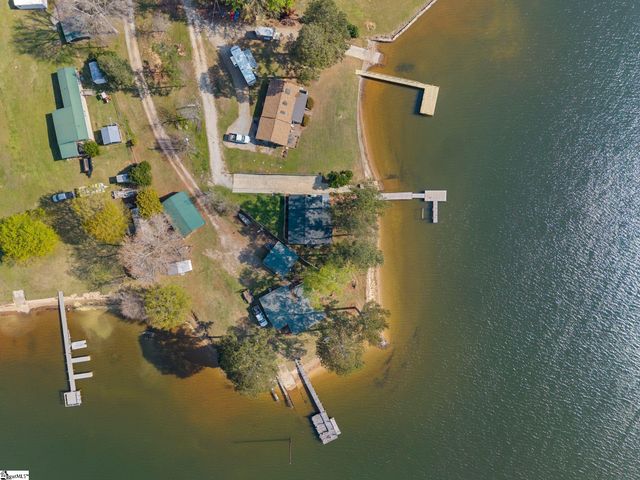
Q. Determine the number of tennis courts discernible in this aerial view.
0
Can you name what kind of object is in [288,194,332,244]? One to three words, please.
house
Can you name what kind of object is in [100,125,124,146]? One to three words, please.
shed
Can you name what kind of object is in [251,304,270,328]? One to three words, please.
vehicle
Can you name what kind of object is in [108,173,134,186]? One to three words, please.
vehicle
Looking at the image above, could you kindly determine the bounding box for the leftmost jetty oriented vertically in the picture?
[56,291,94,408]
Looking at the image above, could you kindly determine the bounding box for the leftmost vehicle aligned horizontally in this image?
[51,191,78,204]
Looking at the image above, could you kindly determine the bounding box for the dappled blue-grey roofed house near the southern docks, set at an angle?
[261,283,326,334]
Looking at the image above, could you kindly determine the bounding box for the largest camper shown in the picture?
[230,44,260,91]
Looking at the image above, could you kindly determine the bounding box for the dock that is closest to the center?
[380,189,447,222]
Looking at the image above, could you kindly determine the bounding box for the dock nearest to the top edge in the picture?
[356,68,439,117]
